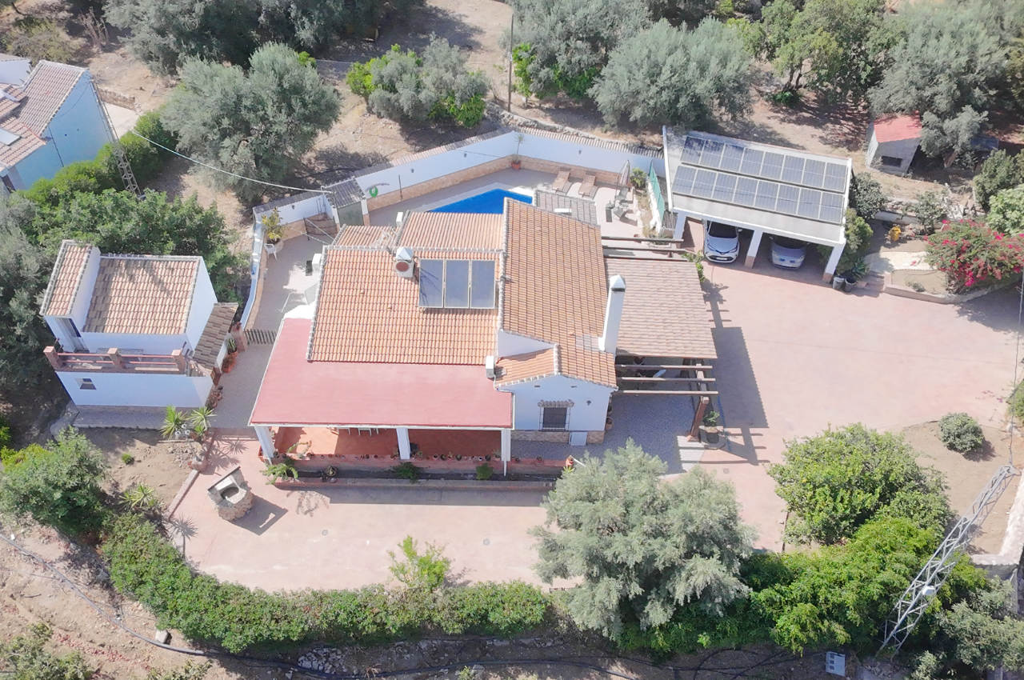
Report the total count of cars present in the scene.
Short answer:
two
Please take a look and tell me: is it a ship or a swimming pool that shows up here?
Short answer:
swimming pool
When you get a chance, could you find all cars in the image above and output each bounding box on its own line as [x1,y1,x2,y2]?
[772,235,812,267]
[704,221,750,261]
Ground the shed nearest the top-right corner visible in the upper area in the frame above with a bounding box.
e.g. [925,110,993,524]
[869,122,925,177]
